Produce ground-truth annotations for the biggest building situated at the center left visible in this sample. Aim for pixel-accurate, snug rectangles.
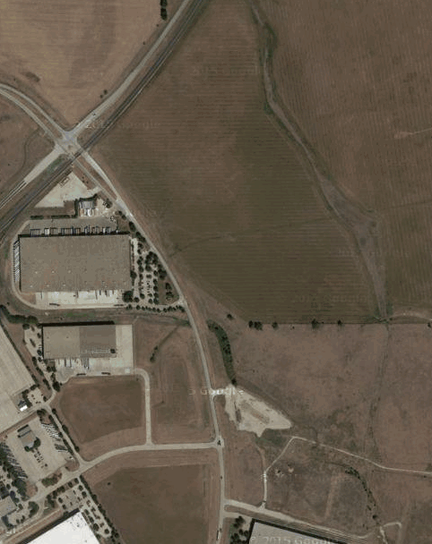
[19,236,131,292]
